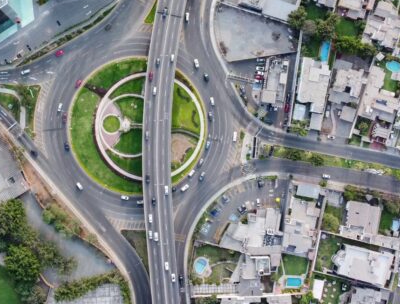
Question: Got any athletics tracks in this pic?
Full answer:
No, the frame has no athletics track in it.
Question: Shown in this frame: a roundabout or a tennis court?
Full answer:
This aerial view contains a roundabout.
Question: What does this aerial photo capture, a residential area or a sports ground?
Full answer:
The area seen from above is a residential area.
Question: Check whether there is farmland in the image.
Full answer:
No, there is no farmland in the image.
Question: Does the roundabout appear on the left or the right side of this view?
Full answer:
The roundabout appears in the left half of the scene.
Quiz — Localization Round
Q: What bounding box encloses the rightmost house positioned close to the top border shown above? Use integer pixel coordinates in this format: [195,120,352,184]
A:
[359,0,400,48]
